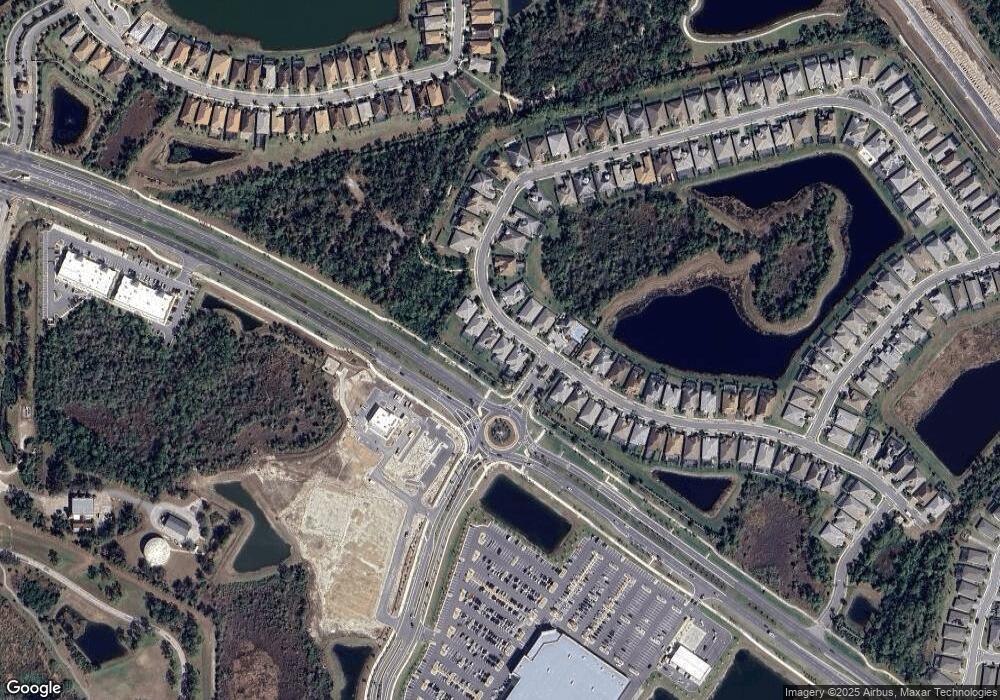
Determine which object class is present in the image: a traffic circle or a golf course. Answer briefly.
traffic circle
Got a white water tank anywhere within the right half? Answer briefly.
No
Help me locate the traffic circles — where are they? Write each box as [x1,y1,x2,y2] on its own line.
[466,404,528,477]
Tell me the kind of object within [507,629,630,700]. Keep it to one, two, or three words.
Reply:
building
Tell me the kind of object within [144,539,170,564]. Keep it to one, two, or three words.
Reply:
water tank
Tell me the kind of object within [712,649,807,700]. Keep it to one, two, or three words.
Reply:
pond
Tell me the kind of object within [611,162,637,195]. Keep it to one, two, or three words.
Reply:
house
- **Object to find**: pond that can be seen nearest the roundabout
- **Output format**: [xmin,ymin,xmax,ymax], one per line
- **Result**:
[480,474,571,553]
